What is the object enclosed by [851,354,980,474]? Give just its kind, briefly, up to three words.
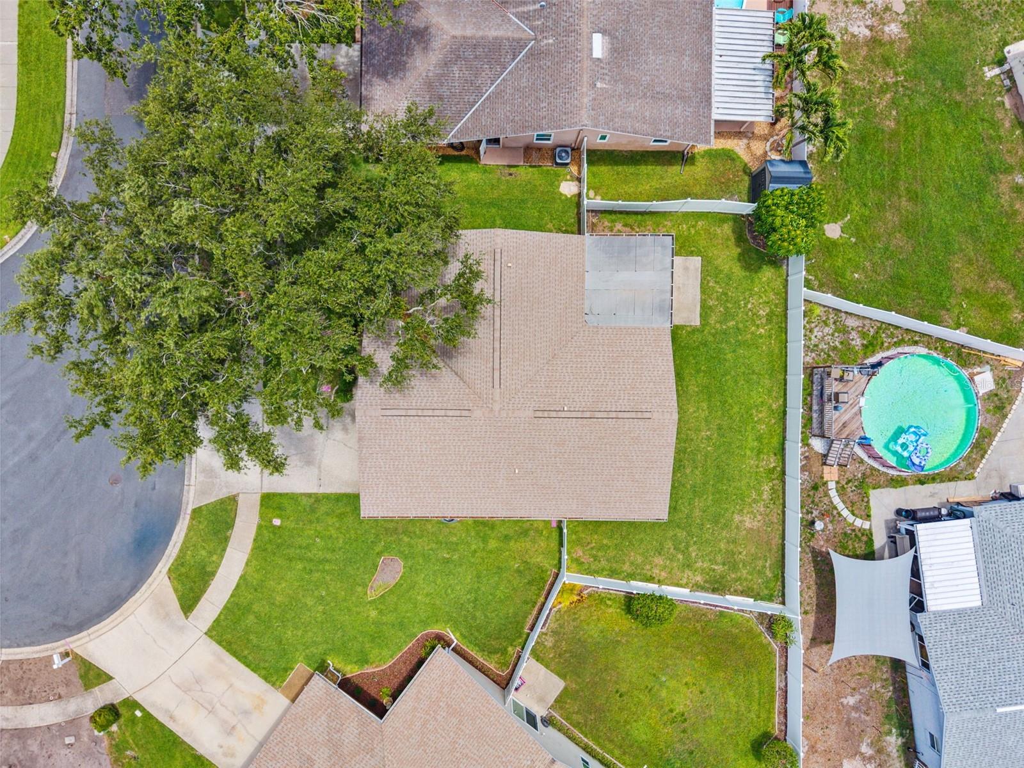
swimming pool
